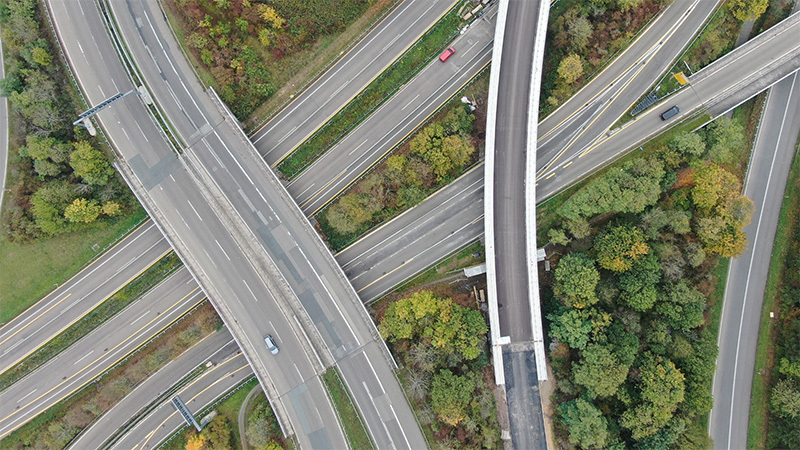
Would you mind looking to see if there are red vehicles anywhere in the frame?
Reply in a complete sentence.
Yes, a red vehicle can be made out from above.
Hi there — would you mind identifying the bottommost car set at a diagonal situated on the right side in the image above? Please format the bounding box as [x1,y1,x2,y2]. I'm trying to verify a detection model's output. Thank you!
[662,104,682,120]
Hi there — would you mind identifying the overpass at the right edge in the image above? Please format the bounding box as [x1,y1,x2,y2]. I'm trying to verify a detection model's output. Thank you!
[687,11,800,130]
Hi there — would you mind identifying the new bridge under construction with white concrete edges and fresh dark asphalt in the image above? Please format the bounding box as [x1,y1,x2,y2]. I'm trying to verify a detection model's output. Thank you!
[484,0,550,385]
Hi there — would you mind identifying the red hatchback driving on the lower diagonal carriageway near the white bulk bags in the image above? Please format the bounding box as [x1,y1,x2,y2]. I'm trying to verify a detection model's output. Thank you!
[439,46,456,62]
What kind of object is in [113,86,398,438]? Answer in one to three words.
bridge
